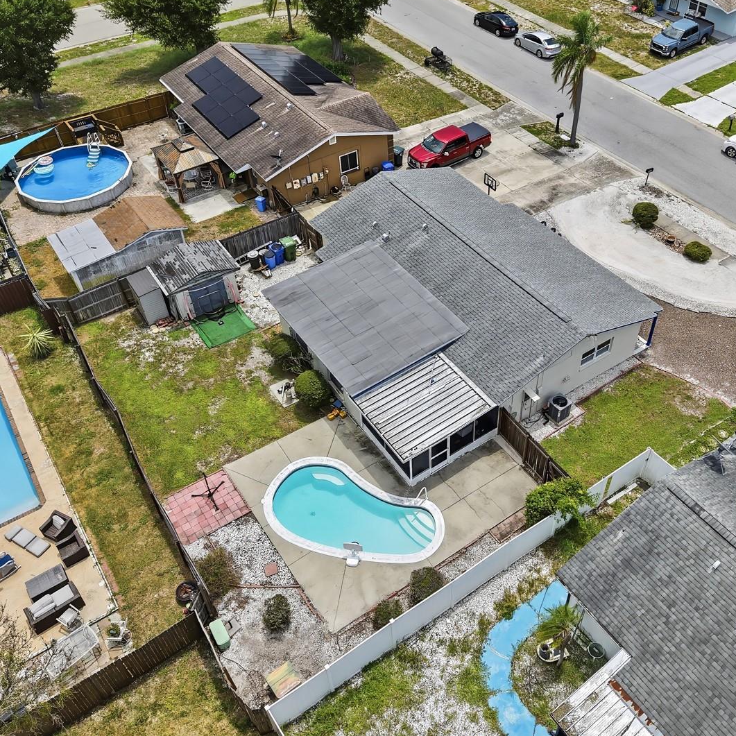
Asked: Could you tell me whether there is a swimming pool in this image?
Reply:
Yes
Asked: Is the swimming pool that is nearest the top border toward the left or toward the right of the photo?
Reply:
left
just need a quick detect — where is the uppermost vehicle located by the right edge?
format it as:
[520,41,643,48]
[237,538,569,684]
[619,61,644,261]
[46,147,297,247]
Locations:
[646,17,714,57]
